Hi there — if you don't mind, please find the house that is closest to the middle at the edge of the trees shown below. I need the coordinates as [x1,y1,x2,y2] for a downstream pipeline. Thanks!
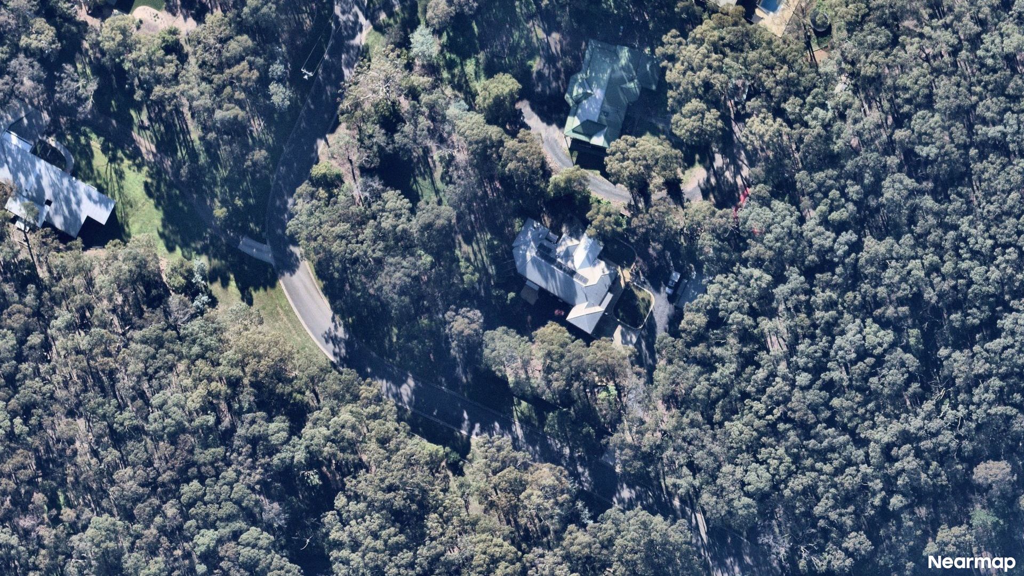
[512,217,618,336]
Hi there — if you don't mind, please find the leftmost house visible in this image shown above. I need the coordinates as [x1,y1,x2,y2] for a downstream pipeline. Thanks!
[0,132,115,239]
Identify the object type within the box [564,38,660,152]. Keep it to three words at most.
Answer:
house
